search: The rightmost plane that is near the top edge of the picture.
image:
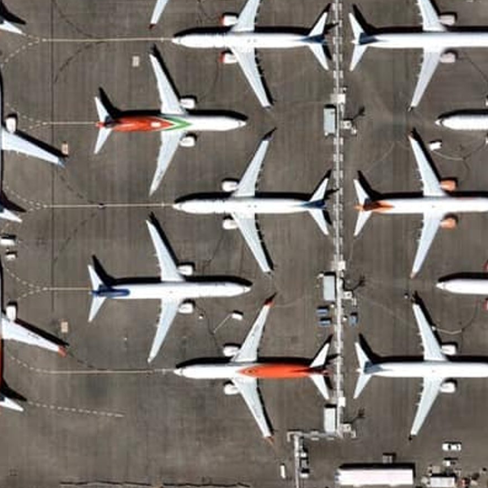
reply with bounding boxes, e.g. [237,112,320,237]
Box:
[348,0,488,112]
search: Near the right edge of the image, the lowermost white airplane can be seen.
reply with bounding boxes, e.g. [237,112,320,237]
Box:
[354,300,488,442]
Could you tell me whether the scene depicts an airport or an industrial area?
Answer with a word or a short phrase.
airport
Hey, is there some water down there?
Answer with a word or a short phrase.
No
